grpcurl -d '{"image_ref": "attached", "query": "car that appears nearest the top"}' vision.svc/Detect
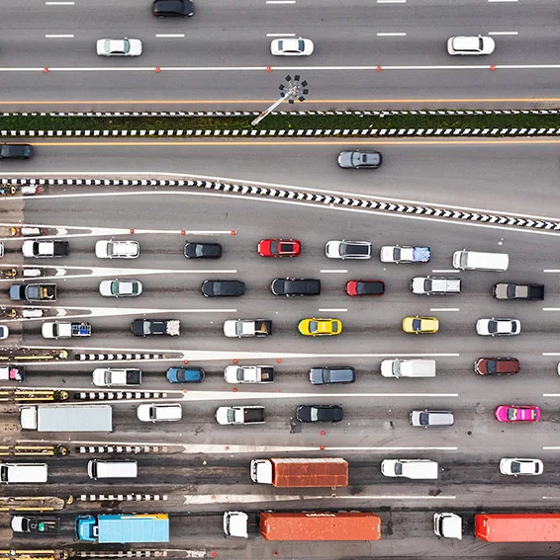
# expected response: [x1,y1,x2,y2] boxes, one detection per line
[152,0,195,19]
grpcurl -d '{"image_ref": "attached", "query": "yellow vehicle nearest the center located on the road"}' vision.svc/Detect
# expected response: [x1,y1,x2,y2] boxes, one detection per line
[296,318,343,336]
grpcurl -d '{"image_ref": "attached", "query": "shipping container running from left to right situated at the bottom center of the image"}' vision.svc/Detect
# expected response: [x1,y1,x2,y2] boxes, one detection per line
[260,514,381,540]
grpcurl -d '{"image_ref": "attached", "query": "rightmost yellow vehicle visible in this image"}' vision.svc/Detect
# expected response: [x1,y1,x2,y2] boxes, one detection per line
[400,315,439,334]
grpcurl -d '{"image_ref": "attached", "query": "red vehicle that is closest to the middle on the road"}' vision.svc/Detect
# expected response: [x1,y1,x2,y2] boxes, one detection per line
[257,238,300,257]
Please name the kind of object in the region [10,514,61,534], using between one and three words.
vehicle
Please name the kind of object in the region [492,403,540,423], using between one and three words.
car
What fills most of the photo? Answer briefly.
paved ground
